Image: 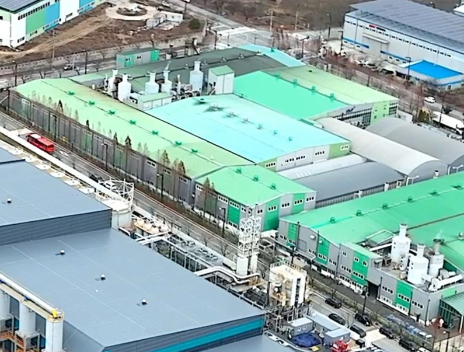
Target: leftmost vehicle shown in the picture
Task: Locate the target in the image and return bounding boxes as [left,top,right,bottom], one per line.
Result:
[29,133,51,149]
